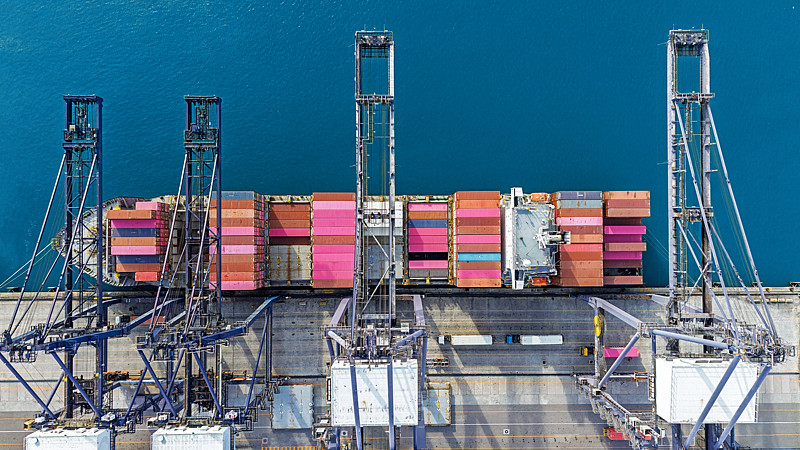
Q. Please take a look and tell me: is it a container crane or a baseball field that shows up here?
container crane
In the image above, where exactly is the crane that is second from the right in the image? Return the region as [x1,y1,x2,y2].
[318,19,430,450]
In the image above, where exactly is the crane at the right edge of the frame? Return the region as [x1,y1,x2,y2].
[573,19,800,450]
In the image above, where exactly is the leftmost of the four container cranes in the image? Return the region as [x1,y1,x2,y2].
[0,85,198,450]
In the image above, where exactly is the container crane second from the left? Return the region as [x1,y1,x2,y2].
[136,85,291,450]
